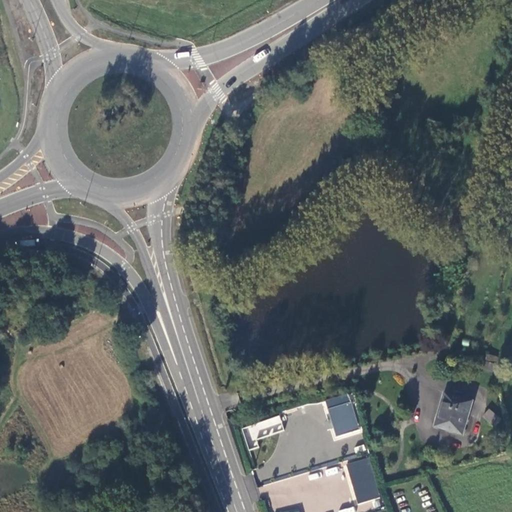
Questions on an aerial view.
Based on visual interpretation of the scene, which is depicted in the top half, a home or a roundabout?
roundabout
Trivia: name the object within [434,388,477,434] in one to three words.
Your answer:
house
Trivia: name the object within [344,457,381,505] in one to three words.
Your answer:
building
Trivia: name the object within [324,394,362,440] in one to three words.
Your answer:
building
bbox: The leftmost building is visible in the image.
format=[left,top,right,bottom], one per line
[242,416,284,451]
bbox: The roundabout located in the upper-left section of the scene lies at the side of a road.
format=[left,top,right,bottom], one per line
[38,46,202,208]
